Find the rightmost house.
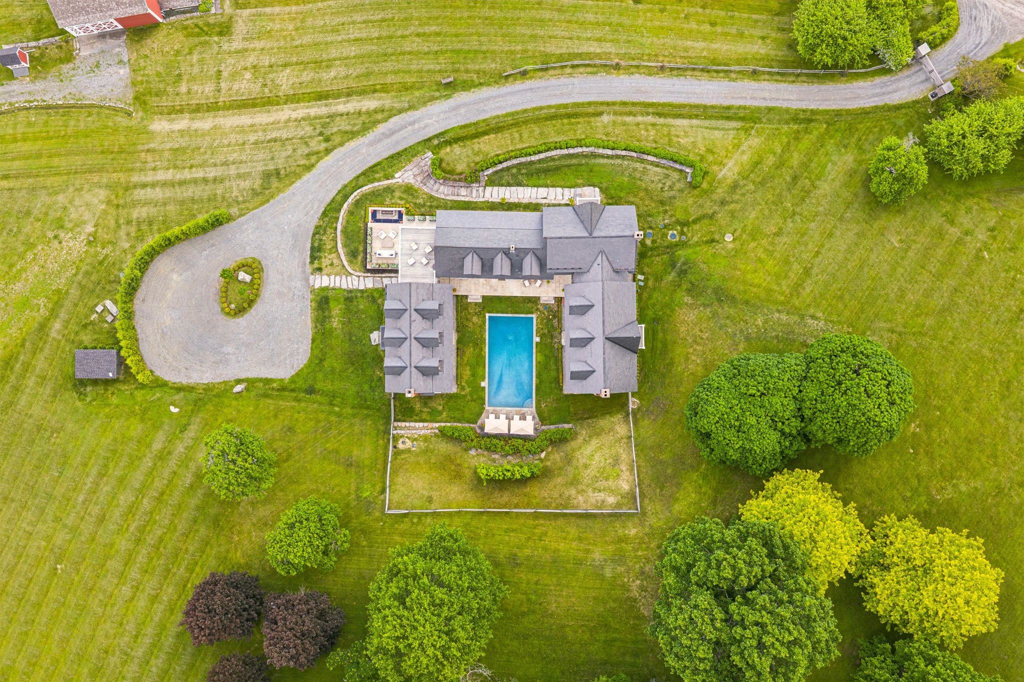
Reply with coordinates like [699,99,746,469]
[434,197,645,398]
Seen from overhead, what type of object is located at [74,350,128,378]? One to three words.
shed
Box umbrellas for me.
[510,421,534,435]
[485,419,508,433]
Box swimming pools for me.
[481,314,540,409]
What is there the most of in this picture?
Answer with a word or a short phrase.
grass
